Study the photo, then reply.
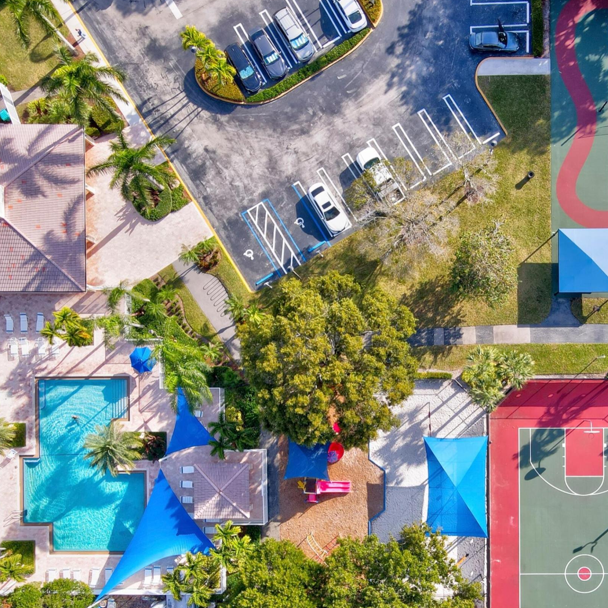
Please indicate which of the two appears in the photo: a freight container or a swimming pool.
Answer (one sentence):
The one in the frame is a swimming pool.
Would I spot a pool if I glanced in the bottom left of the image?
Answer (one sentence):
Yes, the scene does show a pool in the bottom left of the image.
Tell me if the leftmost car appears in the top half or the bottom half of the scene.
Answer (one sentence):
Seen from above, the leftmost car lies in the top half of the view.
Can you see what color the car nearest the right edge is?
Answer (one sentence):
The car nearest the right edge looks blue in the image.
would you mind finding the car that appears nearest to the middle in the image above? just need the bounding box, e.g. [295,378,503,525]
[306,181,348,236]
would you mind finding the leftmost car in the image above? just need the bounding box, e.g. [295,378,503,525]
[224,42,265,96]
